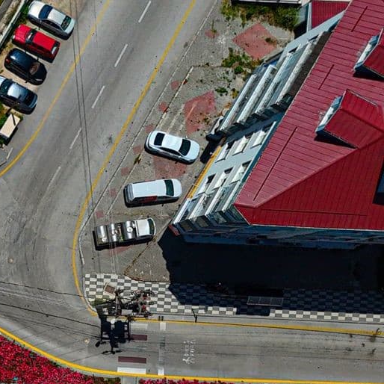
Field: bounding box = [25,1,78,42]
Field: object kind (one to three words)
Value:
car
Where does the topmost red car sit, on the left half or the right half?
left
